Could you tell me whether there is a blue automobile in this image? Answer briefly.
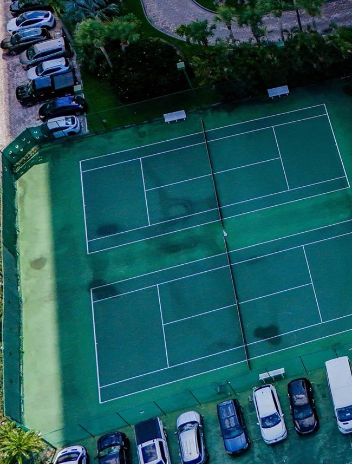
Yes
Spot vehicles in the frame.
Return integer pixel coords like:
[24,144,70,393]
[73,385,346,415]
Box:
[173,411,208,464]
[26,55,76,85]
[3,28,52,56]
[252,384,287,447]
[96,436,131,464]
[133,417,169,464]
[39,98,90,123]
[9,14,56,36]
[287,376,320,438]
[325,353,352,431]
[19,37,73,68]
[51,448,89,464]
[16,75,79,108]
[50,116,87,139]
[216,395,250,461]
